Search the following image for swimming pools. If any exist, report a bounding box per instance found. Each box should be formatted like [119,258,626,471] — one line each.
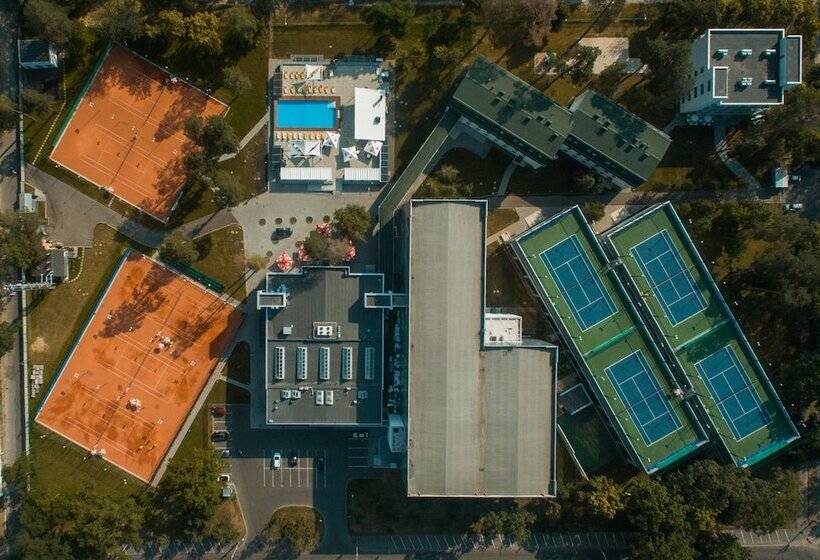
[274,95,340,131]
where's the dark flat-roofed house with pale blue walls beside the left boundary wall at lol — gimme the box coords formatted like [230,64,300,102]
[19,39,58,67]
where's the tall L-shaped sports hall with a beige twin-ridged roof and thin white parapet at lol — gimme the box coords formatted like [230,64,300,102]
[408,200,557,498]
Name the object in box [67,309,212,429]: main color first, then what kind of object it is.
orange tennis court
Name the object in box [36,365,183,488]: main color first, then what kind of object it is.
orange tennis court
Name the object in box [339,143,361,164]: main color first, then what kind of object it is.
white umbrella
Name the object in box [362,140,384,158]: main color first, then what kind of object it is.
white umbrella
